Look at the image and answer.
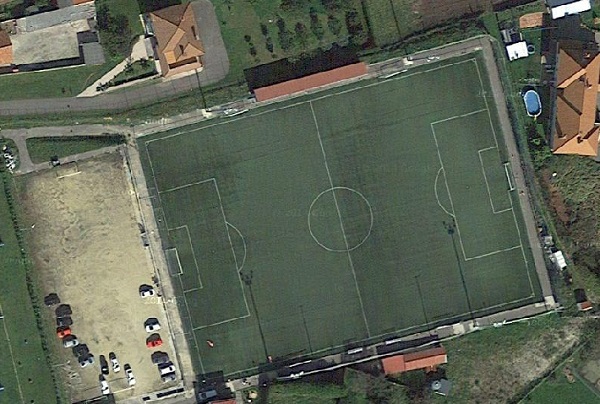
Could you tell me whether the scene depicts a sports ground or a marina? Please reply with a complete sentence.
This image shows a sports ground.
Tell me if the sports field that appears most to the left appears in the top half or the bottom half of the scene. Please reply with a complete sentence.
Seen from above, the sports field that appears most to the left lies in the bottom half of the view.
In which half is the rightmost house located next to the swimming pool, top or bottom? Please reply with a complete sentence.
It is in the top half that the rightmost house located next to the swimming pool appears.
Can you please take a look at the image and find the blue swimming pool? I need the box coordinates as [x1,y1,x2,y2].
[522,90,539,118]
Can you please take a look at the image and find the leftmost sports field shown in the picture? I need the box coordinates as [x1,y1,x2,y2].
[0,178,56,404]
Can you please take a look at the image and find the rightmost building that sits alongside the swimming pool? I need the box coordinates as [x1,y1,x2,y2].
[547,47,600,156]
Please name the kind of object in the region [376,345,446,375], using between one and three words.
building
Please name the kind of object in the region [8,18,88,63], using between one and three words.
house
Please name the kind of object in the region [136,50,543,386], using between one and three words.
soccer field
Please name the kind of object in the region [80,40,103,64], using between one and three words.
building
